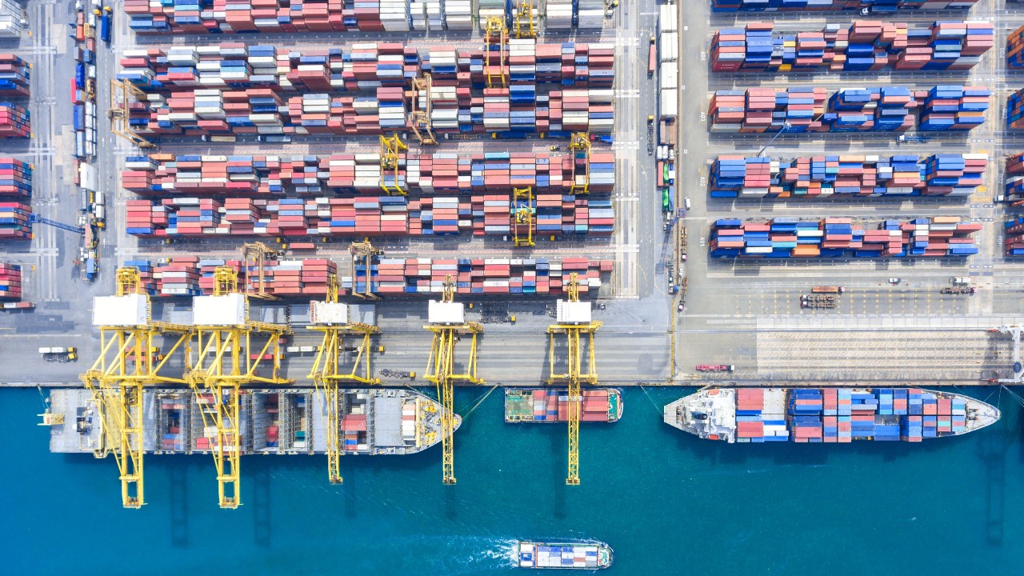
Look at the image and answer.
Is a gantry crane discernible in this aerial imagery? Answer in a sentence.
Yes, looking at the shot, I can spot a gantry crane.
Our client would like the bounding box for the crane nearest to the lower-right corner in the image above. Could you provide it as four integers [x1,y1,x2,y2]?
[974,325,1024,377]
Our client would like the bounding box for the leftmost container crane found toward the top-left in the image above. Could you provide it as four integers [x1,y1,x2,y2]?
[111,83,158,147]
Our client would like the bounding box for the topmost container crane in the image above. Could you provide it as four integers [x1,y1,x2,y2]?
[513,0,539,40]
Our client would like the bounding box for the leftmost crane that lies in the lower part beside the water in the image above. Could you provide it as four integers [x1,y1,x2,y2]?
[81,270,215,510]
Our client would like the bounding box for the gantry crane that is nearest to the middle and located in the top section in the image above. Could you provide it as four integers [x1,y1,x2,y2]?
[512,184,537,249]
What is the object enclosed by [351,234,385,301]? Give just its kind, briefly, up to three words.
container crane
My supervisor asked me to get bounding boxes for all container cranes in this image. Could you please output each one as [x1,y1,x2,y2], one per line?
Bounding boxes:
[569,125,594,196]
[185,269,300,510]
[351,234,385,301]
[302,272,386,487]
[81,270,215,510]
[245,236,284,302]
[513,0,539,40]
[410,76,441,146]
[512,184,537,249]
[541,271,603,488]
[379,130,411,197]
[974,325,1024,377]
[111,83,158,147]
[421,272,491,488]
